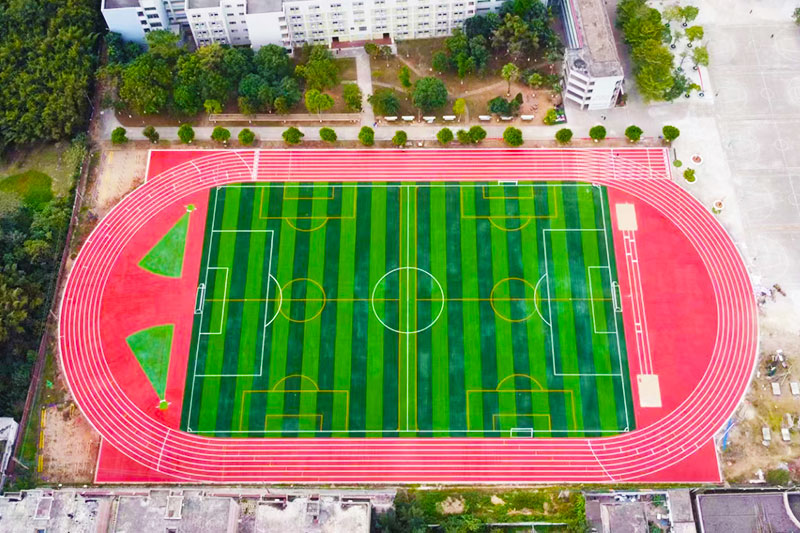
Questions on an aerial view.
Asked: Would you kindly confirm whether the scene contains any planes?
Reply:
No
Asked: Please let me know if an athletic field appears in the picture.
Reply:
Yes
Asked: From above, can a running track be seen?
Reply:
Yes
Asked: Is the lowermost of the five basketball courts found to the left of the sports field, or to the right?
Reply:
to the right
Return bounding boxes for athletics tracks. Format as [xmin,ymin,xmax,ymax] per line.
[59,148,756,482]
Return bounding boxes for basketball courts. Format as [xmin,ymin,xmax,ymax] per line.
[720,120,800,170]
[709,70,800,116]
[730,172,800,227]
[700,23,800,68]
[741,228,800,286]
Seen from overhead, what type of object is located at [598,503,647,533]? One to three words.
house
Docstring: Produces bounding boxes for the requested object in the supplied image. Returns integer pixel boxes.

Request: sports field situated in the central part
[180,181,638,437]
